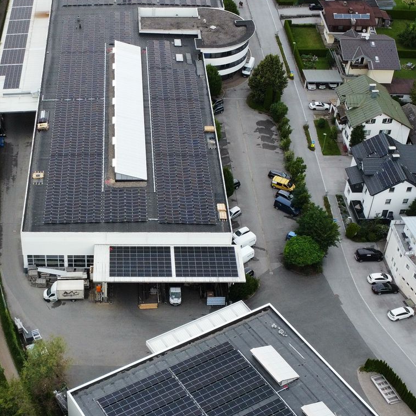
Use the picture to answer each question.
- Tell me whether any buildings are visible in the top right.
Yes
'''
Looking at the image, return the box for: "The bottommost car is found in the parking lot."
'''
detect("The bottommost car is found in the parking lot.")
[385,306,416,321]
